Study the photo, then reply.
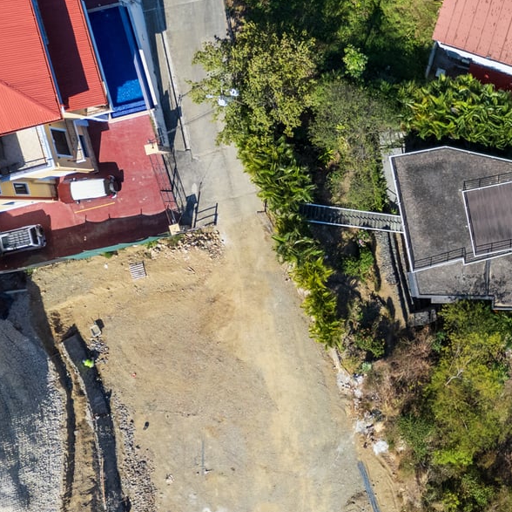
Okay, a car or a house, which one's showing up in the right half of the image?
house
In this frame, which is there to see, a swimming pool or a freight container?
swimming pool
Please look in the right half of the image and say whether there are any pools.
No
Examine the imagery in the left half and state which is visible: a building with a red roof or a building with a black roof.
building with a red roof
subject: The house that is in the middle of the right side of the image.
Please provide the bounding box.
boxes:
[389,146,512,310]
